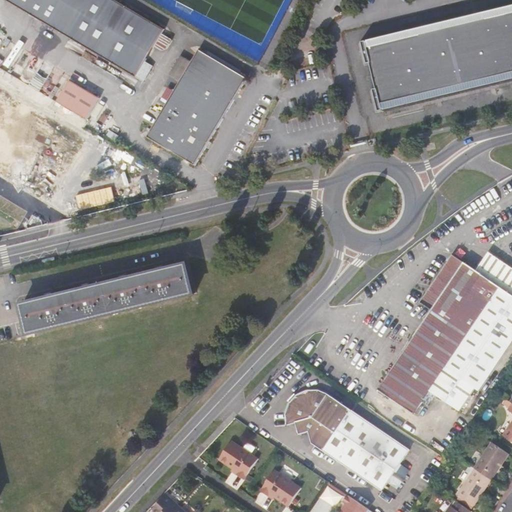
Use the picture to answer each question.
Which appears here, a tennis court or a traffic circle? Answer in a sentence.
The one in the frame is a traffic circle.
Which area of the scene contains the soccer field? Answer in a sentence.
You can find the soccer field in the top area of the picture.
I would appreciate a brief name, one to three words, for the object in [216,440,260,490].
house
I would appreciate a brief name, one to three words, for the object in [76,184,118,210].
shed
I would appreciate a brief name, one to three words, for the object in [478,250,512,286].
building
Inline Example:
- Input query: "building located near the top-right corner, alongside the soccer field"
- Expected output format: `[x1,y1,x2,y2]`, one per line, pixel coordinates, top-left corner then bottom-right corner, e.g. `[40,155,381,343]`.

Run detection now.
[360,4,512,110]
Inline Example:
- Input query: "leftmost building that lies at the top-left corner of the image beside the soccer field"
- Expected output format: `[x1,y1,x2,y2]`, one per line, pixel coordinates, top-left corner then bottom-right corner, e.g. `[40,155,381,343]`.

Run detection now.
[4,0,166,76]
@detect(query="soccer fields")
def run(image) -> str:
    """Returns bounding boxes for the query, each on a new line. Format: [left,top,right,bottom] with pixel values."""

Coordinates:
[140,0,296,64]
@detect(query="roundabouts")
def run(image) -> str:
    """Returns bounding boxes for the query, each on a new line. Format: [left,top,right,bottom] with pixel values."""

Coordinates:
[312,146,471,280]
